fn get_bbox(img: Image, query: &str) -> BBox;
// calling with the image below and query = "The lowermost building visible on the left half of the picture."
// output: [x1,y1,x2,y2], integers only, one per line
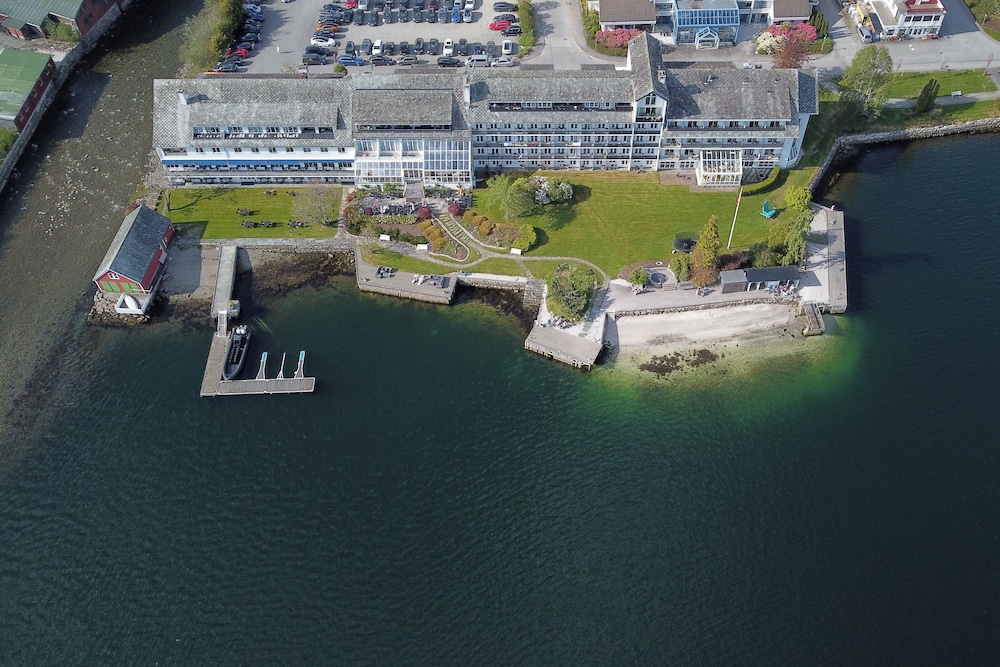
[89,201,175,300]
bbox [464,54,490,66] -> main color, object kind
gray vehicle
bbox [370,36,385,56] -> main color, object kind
white vehicle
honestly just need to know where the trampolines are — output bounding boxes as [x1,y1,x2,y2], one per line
[673,230,700,256]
